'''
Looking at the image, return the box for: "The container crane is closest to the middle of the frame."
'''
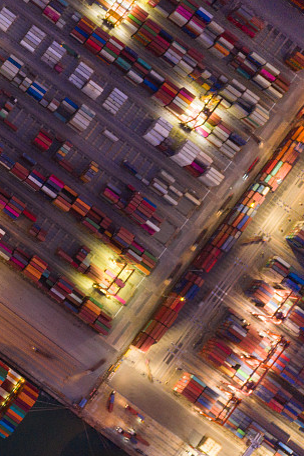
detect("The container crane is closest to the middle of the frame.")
[91,256,135,297]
